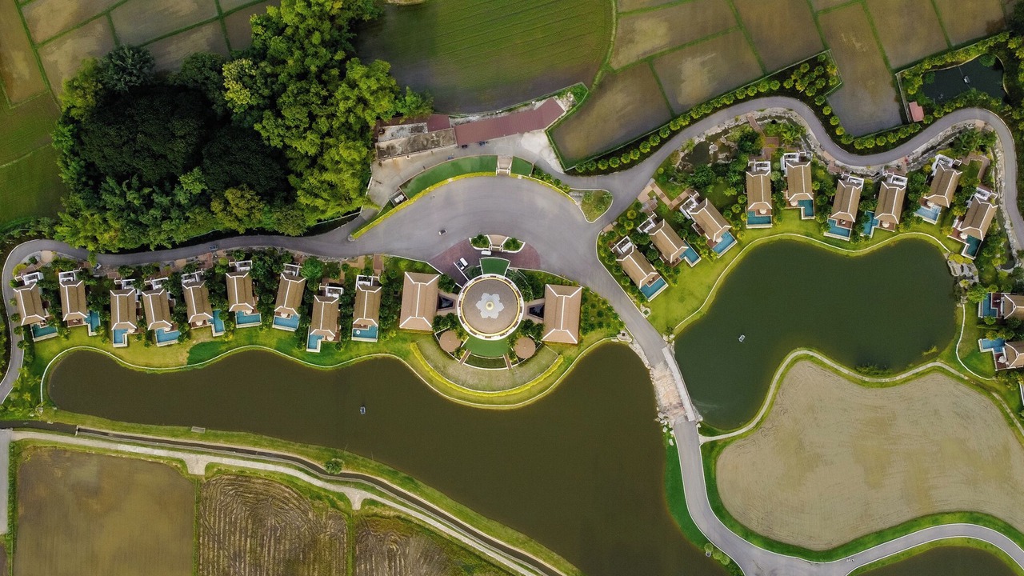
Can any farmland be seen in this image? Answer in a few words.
Yes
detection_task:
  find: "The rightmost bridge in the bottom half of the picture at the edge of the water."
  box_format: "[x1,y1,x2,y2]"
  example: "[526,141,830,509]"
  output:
[653,347,699,426]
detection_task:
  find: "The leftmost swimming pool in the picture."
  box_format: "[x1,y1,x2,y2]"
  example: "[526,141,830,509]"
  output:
[29,322,59,341]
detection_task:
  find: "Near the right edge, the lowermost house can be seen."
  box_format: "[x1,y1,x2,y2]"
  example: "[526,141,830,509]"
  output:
[993,340,1024,371]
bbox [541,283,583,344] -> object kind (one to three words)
building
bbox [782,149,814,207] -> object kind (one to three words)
house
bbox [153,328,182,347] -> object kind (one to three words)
swimming pool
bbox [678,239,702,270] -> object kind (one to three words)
swimming pool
